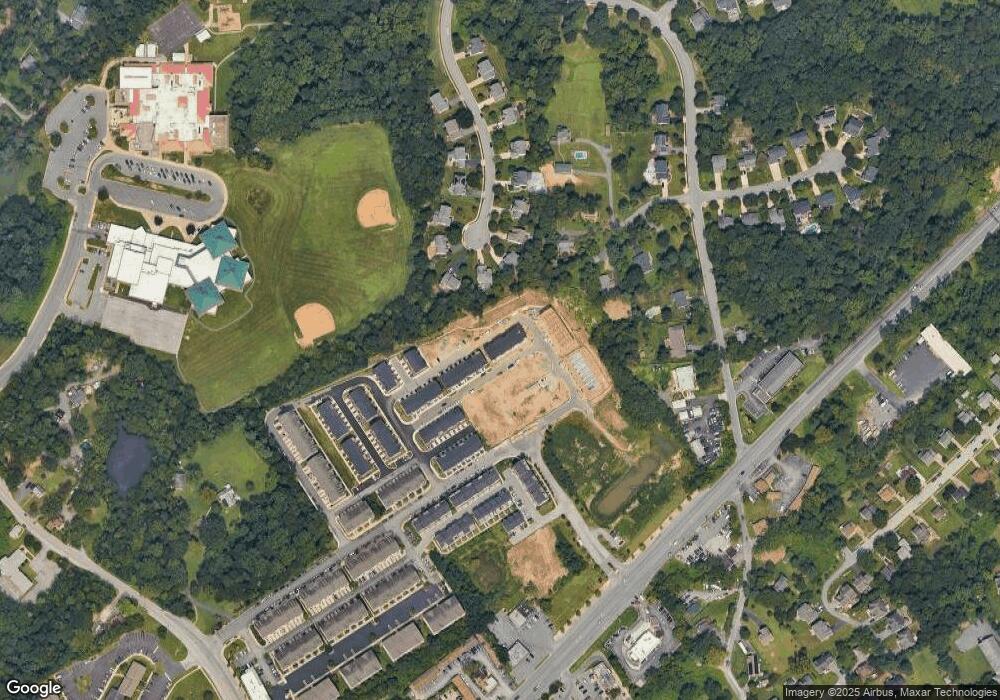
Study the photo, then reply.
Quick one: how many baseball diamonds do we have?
2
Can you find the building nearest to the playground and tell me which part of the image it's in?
top left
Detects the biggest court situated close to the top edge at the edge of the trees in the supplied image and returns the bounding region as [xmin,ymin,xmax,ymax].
[148,2,207,56]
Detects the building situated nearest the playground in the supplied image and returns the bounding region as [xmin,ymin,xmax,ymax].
[114,62,229,153]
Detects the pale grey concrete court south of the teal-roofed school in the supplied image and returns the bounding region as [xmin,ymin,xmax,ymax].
[102,296,188,351]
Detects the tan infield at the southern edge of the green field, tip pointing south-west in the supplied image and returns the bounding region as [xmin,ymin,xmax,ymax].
[294,272,366,347]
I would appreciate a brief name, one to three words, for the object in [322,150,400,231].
baseball field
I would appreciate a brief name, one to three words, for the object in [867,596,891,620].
house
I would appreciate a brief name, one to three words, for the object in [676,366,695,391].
building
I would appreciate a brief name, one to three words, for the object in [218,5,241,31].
playground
